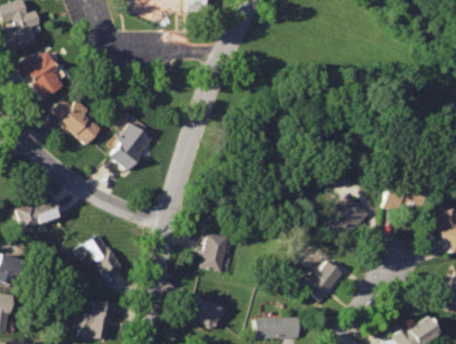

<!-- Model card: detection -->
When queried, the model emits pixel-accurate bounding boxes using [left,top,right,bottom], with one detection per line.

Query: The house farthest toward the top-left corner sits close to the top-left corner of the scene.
[0,0,41,49]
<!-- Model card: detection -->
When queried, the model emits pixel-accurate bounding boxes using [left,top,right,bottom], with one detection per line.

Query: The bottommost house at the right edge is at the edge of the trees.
[390,315,444,344]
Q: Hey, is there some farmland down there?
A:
No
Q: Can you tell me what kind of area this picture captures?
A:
residential area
